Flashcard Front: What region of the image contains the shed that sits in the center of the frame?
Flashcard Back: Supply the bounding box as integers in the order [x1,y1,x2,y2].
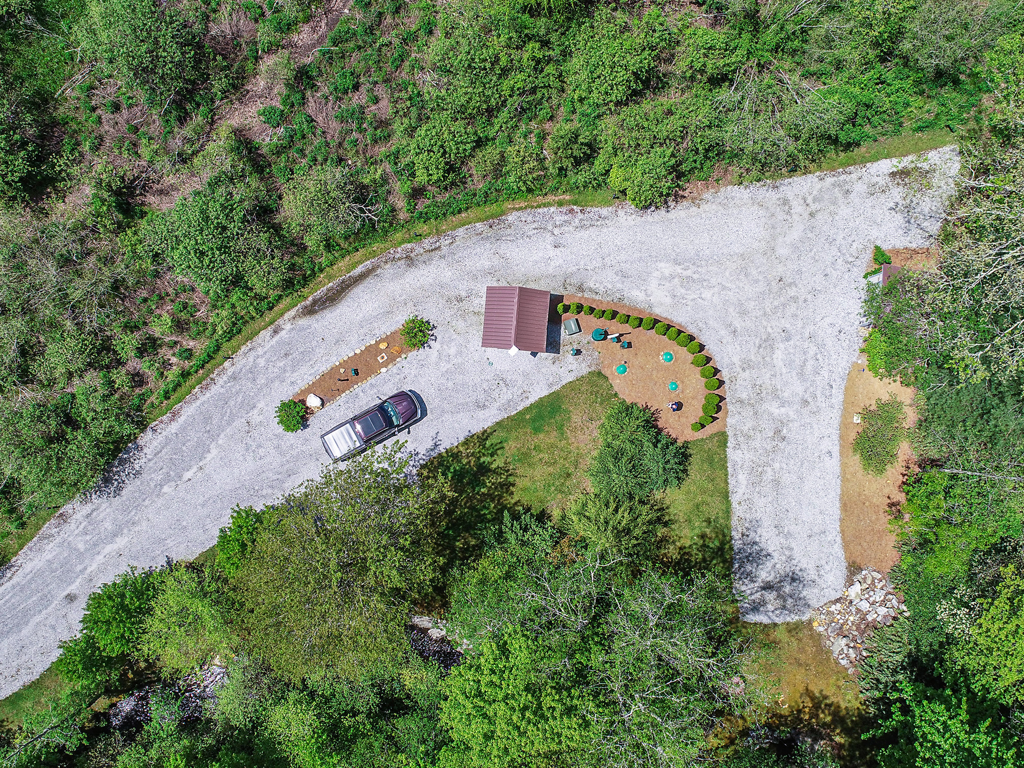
[481,286,551,352]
